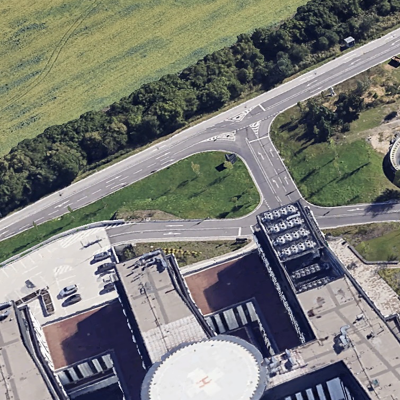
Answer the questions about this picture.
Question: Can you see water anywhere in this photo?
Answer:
No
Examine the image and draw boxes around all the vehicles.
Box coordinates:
[99,285,115,293]
[96,265,113,273]
[60,286,78,295]
[93,253,110,260]
[63,295,81,305]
